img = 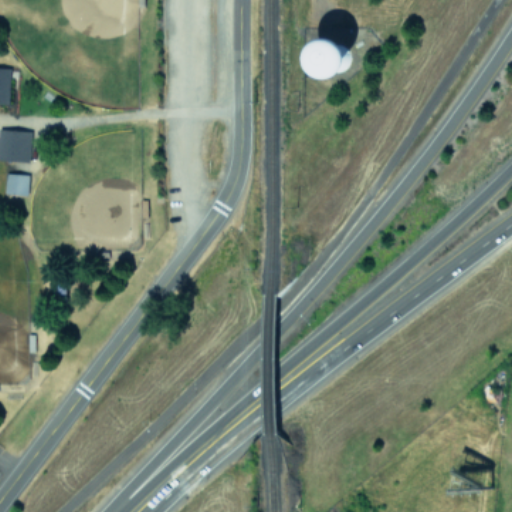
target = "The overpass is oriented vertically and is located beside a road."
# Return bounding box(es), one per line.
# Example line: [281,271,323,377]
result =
[248,276,302,445]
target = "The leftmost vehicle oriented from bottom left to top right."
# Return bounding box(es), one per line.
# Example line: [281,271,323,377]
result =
[144,480,179,508]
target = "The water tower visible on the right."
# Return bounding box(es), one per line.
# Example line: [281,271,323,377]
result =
[300,38,354,79]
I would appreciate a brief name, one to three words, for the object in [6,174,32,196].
shed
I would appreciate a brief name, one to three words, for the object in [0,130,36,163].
house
